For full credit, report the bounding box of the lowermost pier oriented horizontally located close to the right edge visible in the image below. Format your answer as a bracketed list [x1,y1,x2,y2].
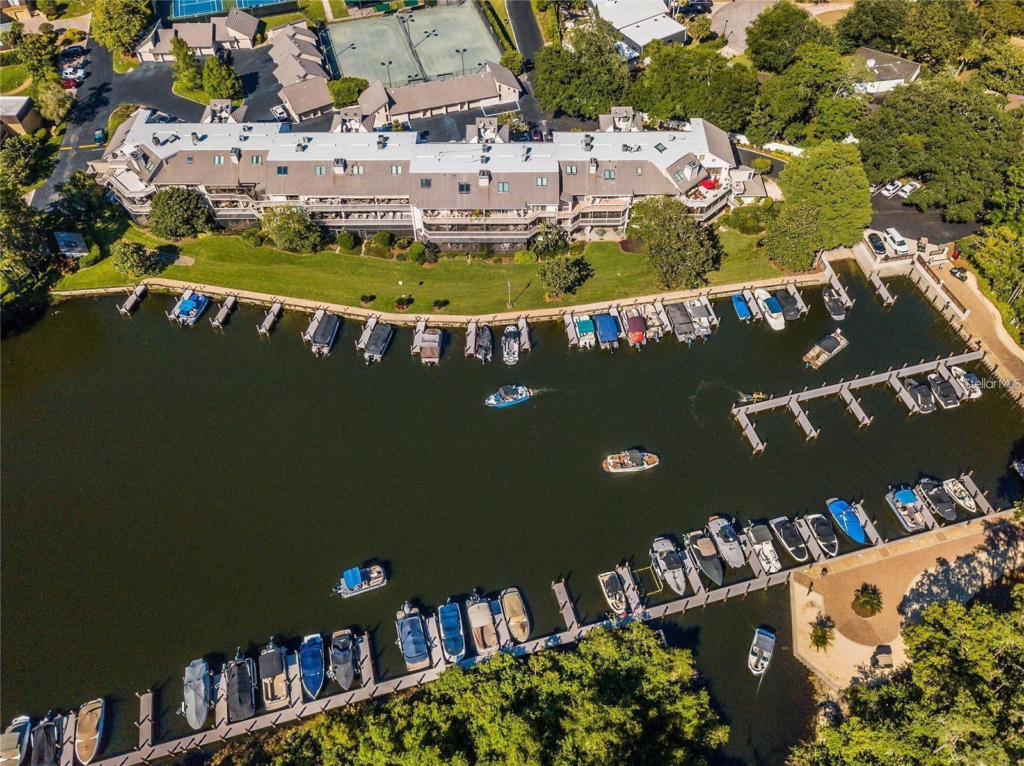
[731,346,986,455]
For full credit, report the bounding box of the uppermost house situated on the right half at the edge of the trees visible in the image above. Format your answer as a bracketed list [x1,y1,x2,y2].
[586,0,687,51]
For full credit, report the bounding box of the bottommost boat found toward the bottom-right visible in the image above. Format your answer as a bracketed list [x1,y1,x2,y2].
[748,623,777,675]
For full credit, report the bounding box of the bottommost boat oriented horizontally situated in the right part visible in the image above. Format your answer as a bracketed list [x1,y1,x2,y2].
[600,447,659,472]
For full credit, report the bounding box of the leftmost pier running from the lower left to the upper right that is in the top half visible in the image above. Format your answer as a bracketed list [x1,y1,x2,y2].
[116,281,150,317]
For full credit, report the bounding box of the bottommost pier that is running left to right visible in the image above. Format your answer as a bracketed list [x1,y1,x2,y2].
[53,531,792,766]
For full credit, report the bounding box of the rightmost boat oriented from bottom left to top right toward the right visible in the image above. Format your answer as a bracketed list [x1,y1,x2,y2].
[799,329,850,370]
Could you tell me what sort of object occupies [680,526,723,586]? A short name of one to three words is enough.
boat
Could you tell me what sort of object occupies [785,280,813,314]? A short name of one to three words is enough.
pier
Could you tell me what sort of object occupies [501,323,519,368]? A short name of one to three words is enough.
boat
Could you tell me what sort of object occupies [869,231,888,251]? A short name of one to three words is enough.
car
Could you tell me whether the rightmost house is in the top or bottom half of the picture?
top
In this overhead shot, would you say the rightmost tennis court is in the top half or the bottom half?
top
